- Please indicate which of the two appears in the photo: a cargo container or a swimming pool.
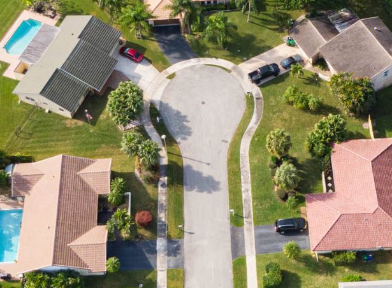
swimming pool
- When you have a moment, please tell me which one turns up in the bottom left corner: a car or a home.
home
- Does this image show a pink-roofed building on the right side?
Yes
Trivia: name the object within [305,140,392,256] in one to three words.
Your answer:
house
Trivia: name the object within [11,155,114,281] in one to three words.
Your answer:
house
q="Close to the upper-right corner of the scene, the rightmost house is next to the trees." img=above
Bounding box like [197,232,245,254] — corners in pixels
[289,10,392,92]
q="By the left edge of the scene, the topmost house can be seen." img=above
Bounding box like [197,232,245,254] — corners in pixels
[12,14,134,121]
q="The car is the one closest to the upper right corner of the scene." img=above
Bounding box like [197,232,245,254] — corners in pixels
[278,53,305,71]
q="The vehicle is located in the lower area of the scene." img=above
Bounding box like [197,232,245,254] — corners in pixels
[274,216,307,234]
